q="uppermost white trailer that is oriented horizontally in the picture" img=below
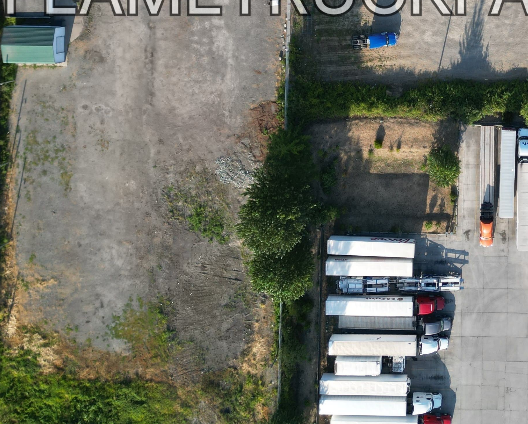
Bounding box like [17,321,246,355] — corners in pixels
[327,234,415,257]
